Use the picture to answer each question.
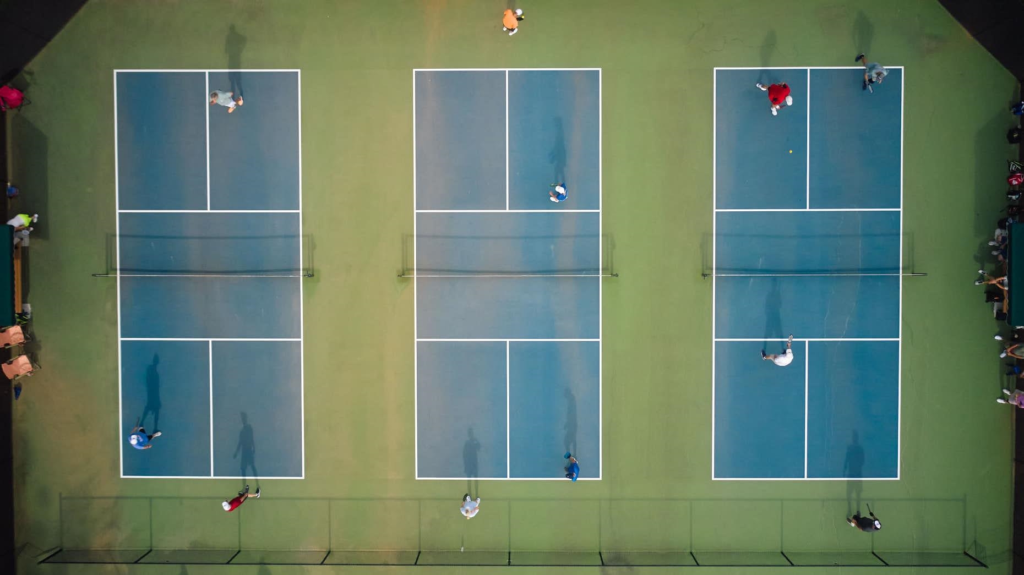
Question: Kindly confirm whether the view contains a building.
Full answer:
No, the picture doesn't show any building.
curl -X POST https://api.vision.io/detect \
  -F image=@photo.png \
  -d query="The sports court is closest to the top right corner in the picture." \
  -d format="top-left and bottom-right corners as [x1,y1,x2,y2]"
[713,66,904,479]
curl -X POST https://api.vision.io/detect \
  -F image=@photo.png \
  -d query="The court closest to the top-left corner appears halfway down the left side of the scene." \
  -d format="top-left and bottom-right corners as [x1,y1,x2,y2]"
[114,69,304,478]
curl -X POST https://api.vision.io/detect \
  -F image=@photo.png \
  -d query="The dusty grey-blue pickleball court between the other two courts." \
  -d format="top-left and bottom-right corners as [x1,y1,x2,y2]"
[414,68,601,479]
